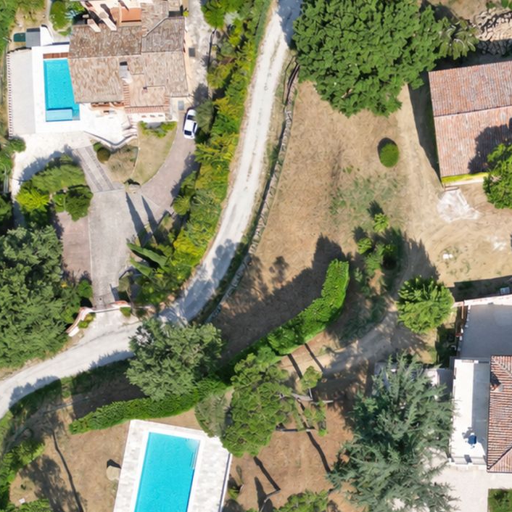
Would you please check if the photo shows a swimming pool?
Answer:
Yes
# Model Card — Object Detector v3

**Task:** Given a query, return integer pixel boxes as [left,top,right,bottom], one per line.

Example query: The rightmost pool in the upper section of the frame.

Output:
[32,45,137,141]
